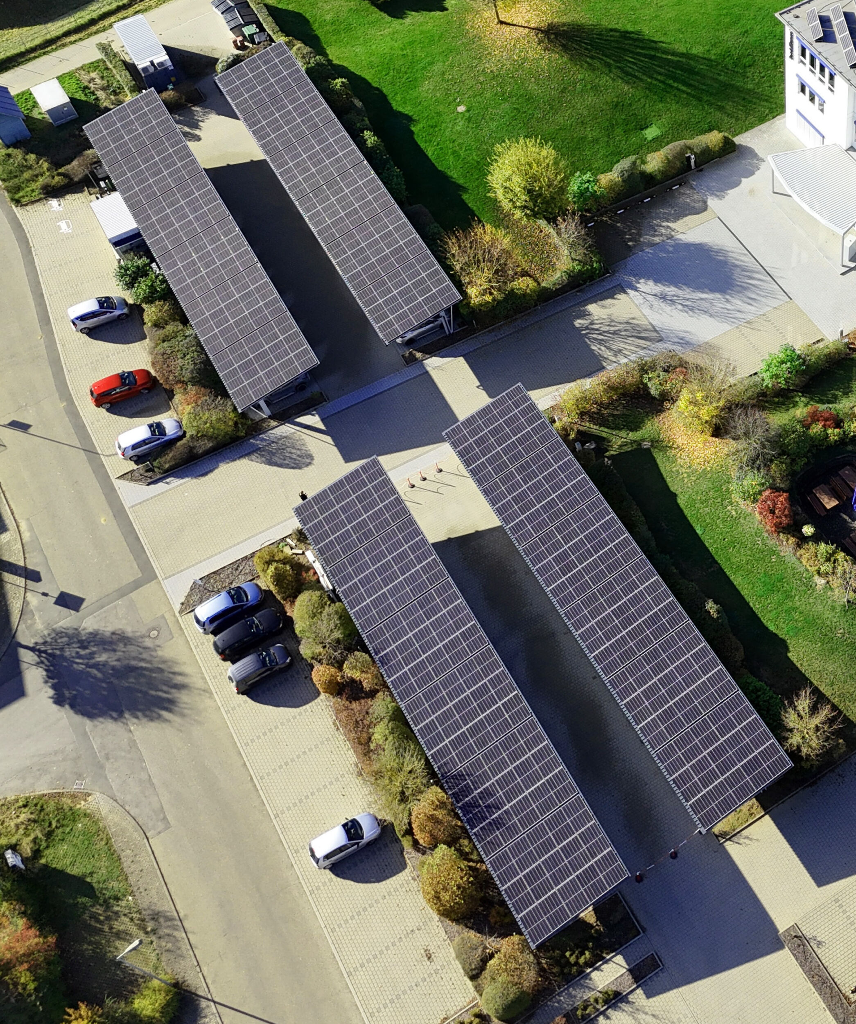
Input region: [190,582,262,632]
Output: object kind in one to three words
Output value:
car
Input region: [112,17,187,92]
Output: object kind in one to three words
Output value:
shipping container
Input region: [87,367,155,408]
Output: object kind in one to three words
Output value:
car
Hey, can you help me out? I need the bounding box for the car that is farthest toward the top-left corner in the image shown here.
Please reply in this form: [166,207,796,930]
[65,294,130,334]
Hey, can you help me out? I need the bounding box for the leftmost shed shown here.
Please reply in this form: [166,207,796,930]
[0,83,31,145]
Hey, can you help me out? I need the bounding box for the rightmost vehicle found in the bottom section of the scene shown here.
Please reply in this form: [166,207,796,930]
[302,813,382,870]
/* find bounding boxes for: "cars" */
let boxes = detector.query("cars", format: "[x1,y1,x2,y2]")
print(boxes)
[190,582,262,632]
[114,418,182,460]
[258,374,313,406]
[208,608,281,658]
[221,642,290,692]
[65,294,130,334]
[398,312,454,345]
[87,367,155,408]
[302,813,382,870]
